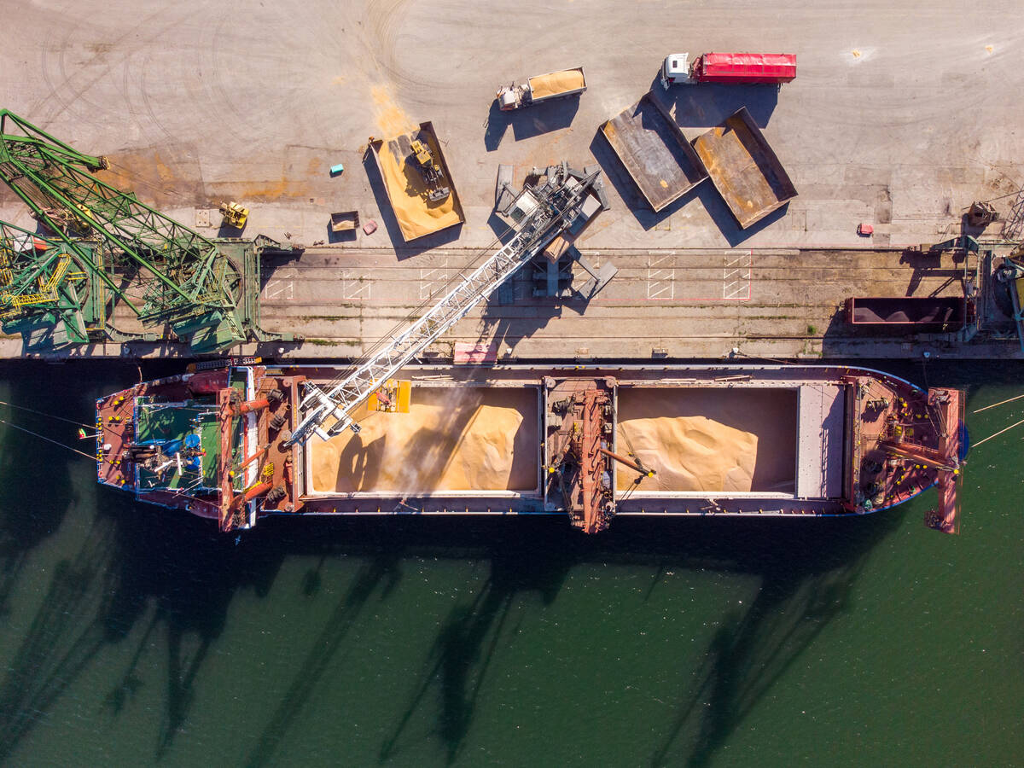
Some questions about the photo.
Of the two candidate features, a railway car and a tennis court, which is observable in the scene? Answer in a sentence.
Visible in the photo is a railway car.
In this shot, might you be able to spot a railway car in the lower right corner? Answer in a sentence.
No, in the lower right corner there is no railway car.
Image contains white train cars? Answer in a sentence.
No, I can see no white train car in this picture.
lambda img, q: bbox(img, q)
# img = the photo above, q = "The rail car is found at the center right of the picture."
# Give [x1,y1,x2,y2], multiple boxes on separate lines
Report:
[837,297,969,326]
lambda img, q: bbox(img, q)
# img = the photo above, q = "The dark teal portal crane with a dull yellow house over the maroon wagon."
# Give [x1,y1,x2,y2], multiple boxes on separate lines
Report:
[897,197,1024,355]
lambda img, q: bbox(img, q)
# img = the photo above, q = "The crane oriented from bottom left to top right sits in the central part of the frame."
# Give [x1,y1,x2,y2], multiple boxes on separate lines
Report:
[282,158,620,448]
